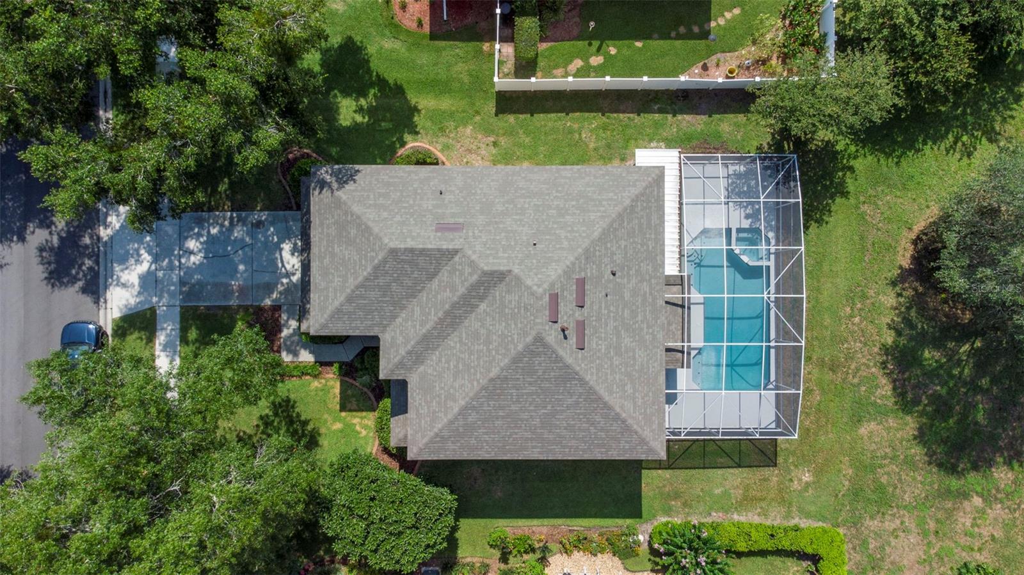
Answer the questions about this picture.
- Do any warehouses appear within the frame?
No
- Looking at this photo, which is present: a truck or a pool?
pool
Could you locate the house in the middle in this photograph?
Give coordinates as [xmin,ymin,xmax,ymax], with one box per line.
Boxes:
[300,164,691,462]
